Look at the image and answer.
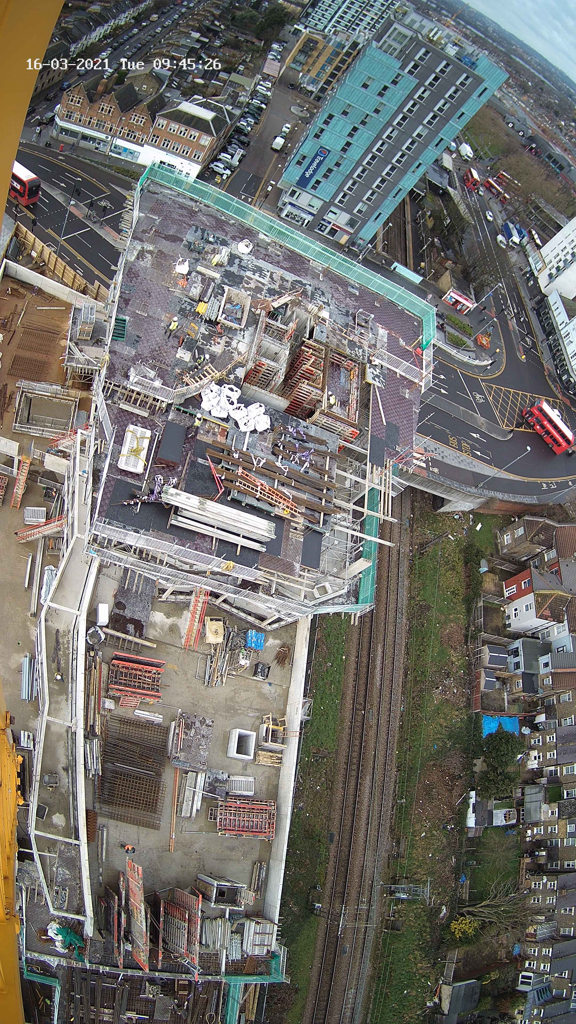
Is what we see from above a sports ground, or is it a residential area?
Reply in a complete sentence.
What you see here is a residential area.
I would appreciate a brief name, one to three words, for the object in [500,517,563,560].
house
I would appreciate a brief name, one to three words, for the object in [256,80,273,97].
car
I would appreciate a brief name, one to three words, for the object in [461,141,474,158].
vehicle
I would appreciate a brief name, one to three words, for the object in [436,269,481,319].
building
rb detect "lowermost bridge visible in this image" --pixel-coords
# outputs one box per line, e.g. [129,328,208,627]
[380,466,576,518]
